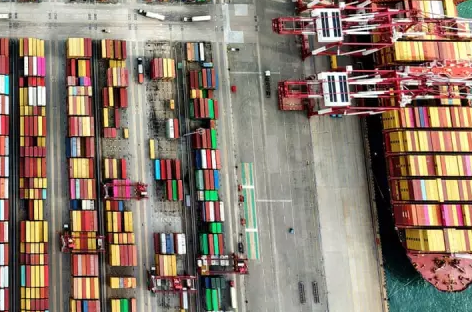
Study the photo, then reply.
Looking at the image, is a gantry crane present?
Yes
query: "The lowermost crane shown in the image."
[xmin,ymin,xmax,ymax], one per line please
[140,270,198,294]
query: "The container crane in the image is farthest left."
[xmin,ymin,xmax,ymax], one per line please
[55,231,105,253]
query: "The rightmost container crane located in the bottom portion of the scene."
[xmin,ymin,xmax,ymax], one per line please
[187,253,249,276]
